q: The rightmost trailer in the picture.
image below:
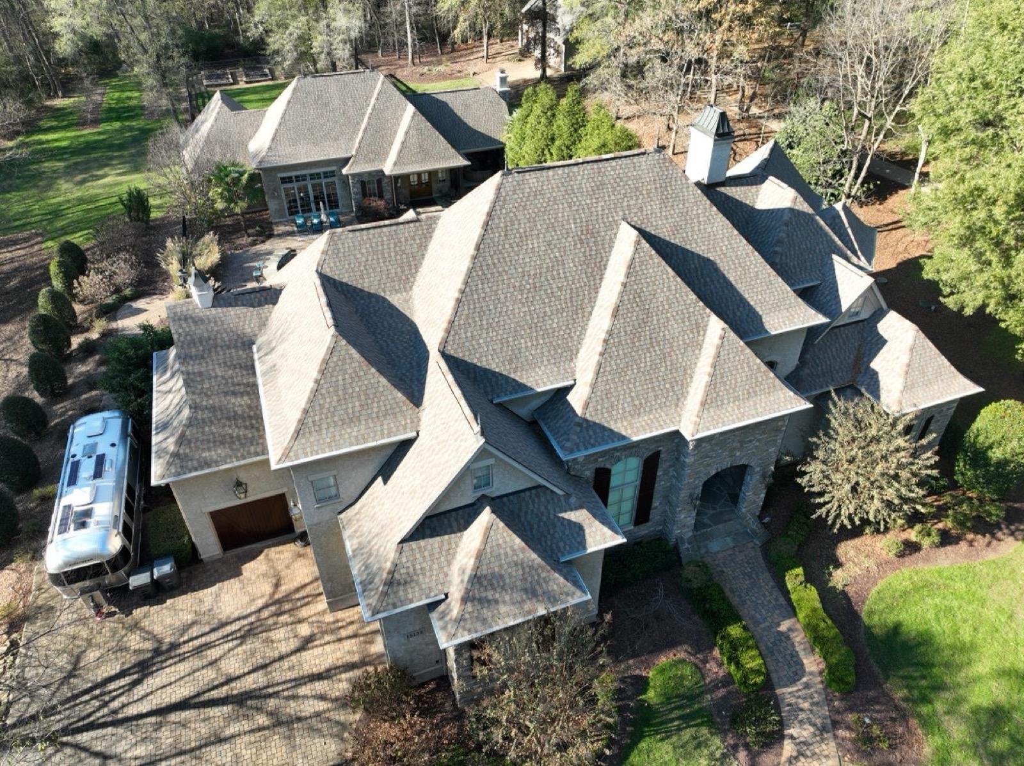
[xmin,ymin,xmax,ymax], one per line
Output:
[51,416,151,627]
